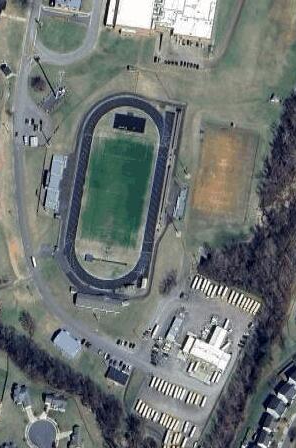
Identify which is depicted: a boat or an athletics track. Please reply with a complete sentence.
There is an athletics track in the scene.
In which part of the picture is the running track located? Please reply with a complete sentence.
You can find the running track in the center area of the picture.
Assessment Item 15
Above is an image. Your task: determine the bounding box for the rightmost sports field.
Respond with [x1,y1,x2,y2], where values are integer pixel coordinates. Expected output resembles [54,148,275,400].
[190,126,252,219]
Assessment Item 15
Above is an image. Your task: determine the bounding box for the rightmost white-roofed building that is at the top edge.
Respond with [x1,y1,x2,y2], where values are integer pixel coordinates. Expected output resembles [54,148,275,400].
[158,0,215,42]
